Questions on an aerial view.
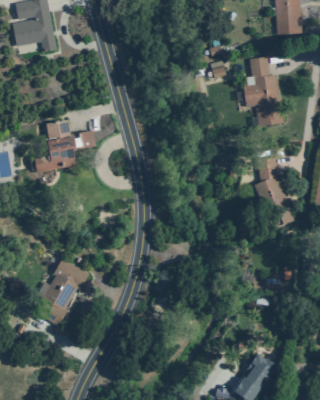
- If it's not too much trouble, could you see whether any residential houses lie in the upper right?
Yes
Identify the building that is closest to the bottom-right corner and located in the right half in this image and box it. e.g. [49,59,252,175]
[234,355,275,400]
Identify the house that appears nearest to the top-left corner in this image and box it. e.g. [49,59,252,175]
[12,0,56,52]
